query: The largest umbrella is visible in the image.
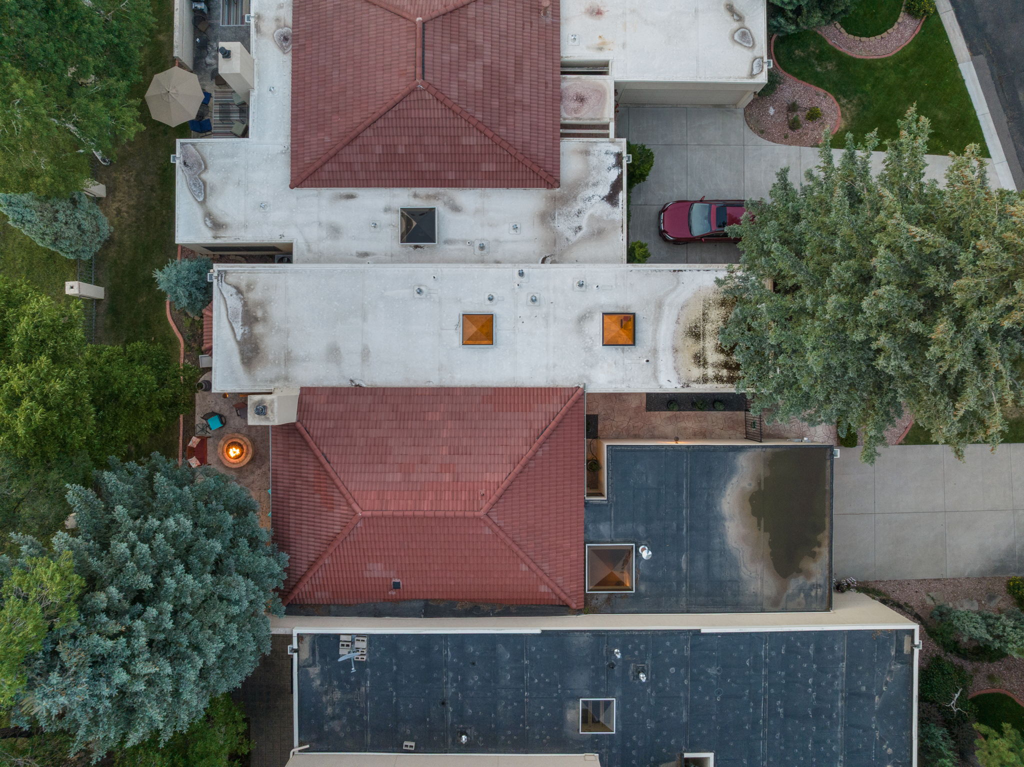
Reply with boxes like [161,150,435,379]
[145,66,206,128]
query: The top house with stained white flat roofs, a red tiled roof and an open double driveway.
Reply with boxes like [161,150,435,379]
[170,0,773,264]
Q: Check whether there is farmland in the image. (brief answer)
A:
No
